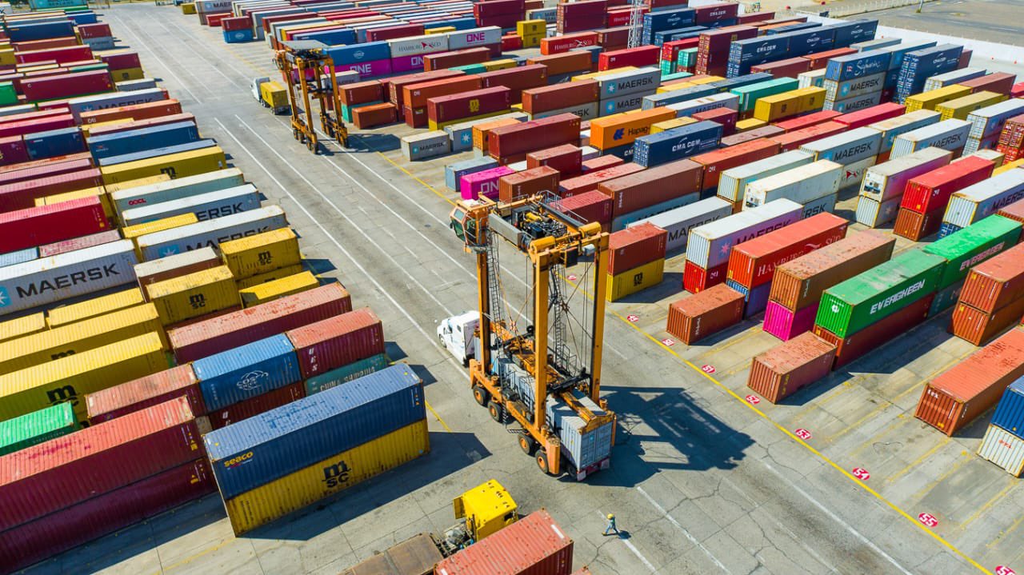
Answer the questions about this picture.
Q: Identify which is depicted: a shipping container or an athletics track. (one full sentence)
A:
This aerial view contains a shipping container.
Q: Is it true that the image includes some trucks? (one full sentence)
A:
Yes, you can see a truck in this photo.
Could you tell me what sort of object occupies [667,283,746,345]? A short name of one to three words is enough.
shipping container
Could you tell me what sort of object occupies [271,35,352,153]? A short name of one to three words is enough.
work vehicle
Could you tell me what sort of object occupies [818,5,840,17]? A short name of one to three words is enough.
vehicle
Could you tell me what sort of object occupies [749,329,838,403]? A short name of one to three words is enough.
shipping container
